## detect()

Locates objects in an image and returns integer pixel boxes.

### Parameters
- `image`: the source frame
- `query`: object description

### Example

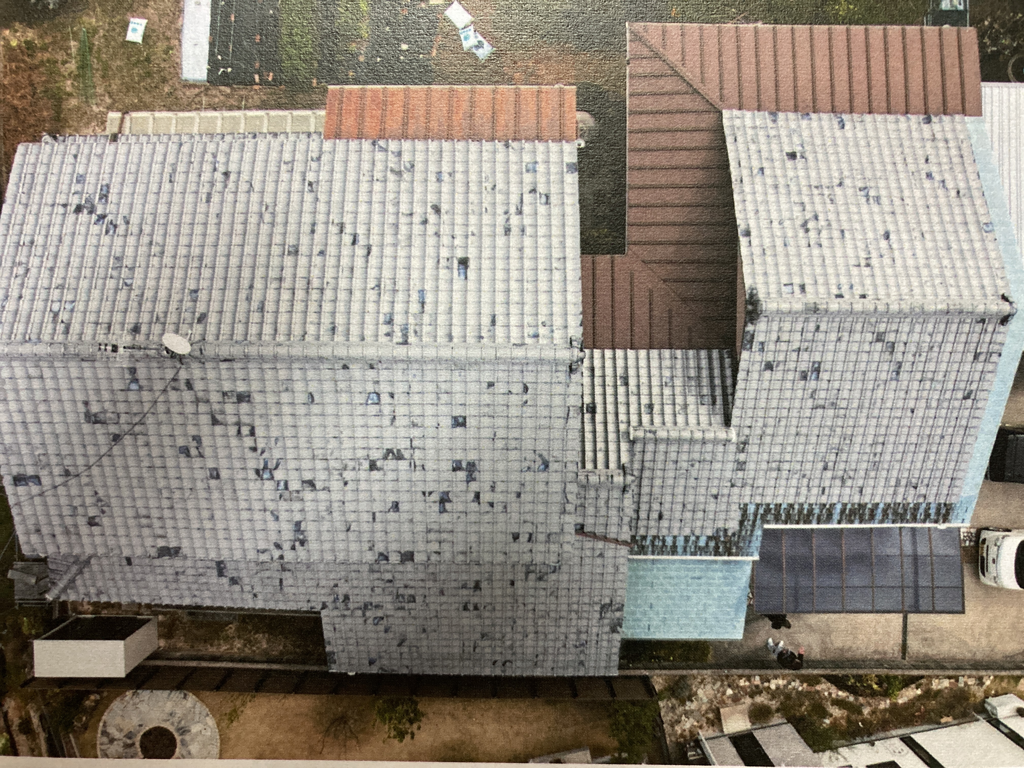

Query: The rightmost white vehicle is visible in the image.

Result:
[971,527,1024,588]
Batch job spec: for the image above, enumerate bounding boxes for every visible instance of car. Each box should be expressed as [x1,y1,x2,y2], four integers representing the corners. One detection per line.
[971,527,1024,588]
[987,430,1024,482]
